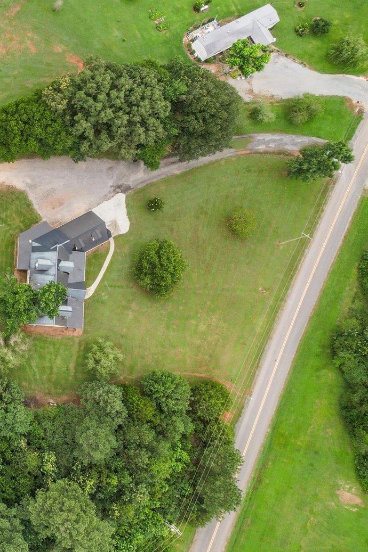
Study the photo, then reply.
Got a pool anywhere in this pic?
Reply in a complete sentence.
No, there appears to be no pool in this shot.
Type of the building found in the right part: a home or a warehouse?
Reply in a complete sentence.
The building found in the right part in the image is a home.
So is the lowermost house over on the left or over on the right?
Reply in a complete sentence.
The lowermost house sits on the left side.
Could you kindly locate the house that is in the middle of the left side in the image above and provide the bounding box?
[16,210,112,328]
